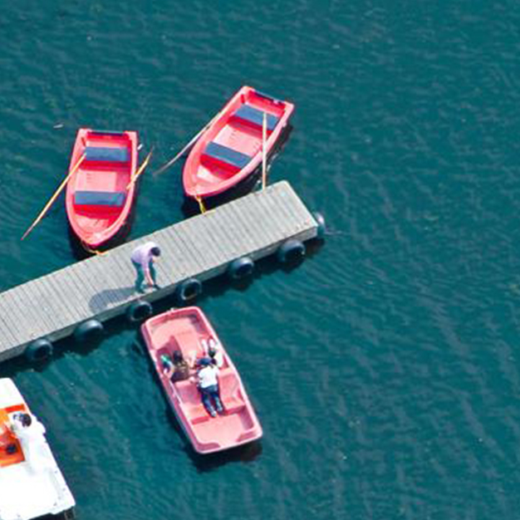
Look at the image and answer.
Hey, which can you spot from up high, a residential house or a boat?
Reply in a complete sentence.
I can see a boat in this picture.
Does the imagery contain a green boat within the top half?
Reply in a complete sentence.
No, I can find no green boat within the top half.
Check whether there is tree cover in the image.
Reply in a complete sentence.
No, there's no tree cover in this view.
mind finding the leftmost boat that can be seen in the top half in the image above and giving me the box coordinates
[67,132,140,249]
